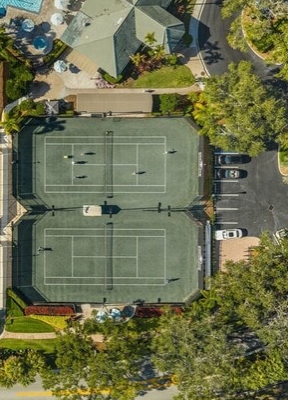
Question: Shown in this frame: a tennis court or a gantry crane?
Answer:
tennis court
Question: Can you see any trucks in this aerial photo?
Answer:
No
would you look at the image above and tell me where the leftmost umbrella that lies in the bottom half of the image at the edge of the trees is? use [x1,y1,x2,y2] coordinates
[94,310,107,323]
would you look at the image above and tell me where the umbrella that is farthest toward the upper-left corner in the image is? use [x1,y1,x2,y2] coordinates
[20,20,34,33]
